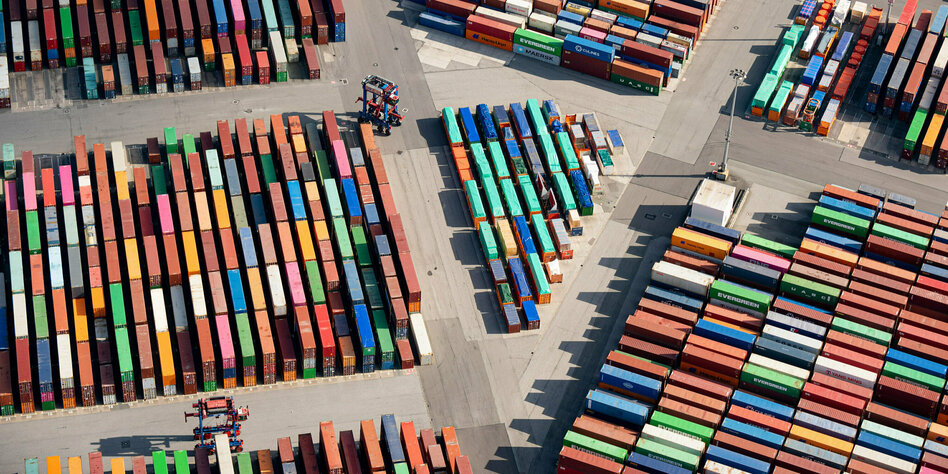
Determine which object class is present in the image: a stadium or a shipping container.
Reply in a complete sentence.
The one in the frame is a shipping container.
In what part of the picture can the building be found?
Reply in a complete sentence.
Look in the right portion of the view to spot the building.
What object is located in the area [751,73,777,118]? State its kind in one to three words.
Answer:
shipping container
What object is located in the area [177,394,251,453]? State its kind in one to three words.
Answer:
work vehicle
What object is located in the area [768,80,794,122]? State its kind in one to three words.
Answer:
shipping container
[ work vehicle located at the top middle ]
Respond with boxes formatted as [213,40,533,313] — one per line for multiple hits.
[354,74,406,138]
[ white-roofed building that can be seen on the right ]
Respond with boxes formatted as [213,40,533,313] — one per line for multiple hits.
[692,179,736,229]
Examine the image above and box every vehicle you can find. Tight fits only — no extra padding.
[177,394,251,453]
[354,74,406,138]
